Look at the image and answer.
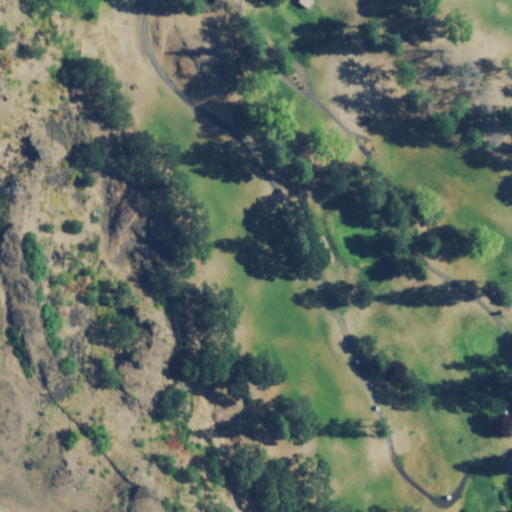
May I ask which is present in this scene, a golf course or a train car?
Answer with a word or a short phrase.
golf course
